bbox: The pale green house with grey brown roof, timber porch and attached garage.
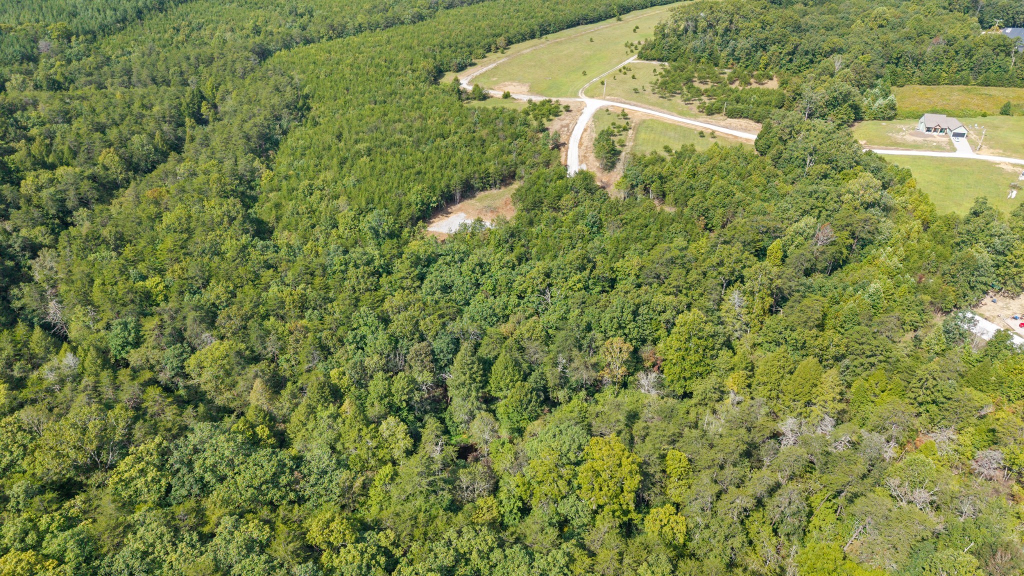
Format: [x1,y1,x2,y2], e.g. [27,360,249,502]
[920,114,969,139]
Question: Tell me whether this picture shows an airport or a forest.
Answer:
forest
